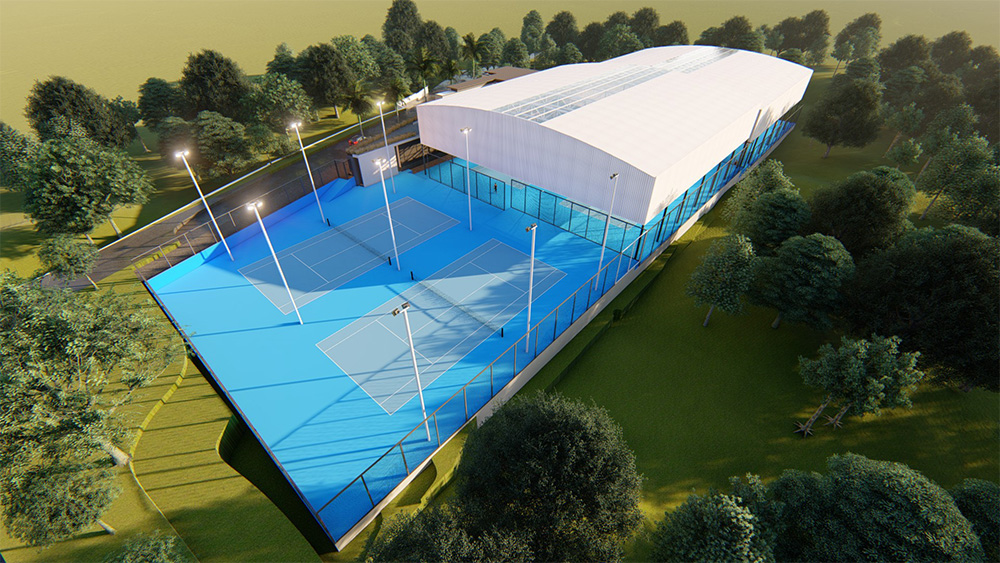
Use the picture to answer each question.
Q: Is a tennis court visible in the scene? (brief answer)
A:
Yes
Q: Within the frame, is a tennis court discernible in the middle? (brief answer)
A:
Yes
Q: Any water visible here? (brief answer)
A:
No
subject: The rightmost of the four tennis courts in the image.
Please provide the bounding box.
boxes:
[546,193,622,224]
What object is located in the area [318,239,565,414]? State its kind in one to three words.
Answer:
tennis court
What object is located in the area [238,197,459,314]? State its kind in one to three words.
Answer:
tennis court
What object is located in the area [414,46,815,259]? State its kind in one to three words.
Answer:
building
